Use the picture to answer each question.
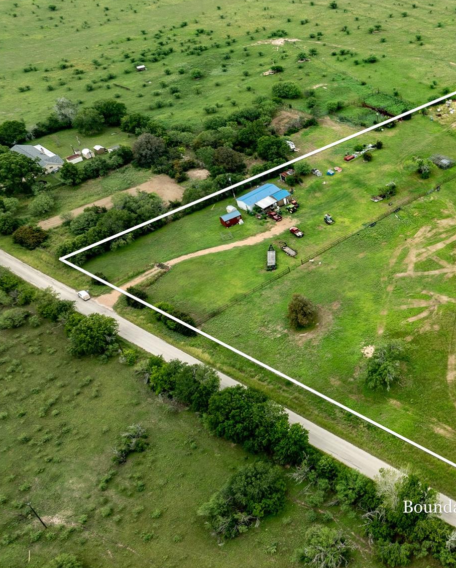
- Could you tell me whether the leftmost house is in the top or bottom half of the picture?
top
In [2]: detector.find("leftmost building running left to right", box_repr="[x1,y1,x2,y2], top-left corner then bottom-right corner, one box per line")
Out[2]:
[9,144,58,169]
